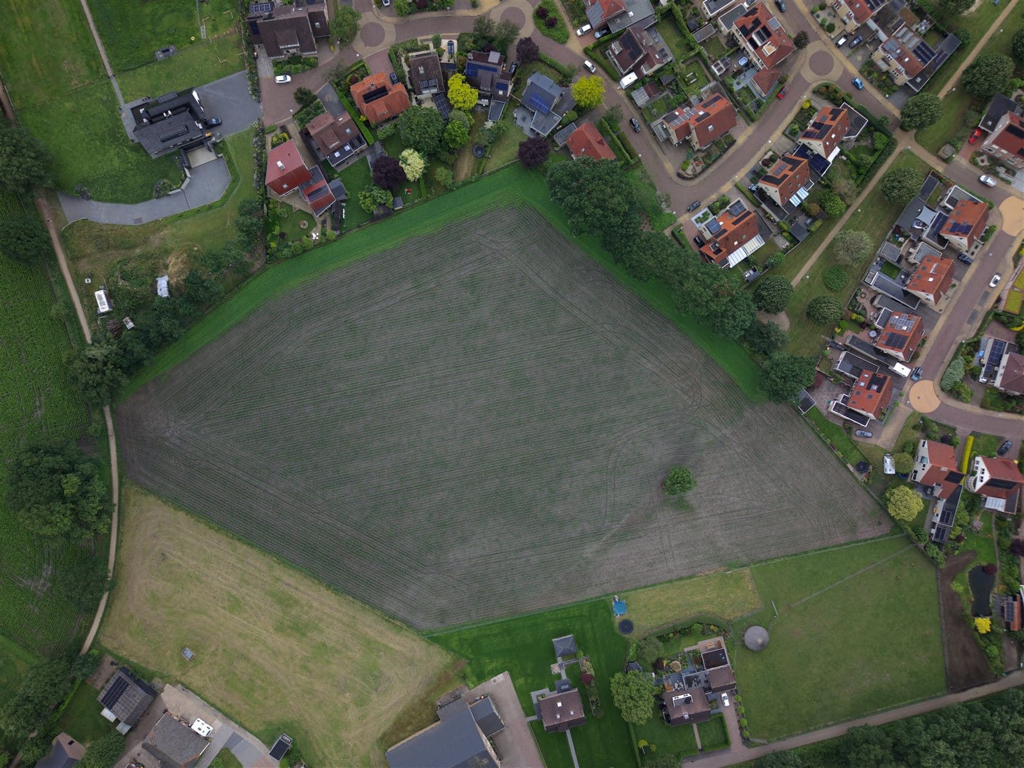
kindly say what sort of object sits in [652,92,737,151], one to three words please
house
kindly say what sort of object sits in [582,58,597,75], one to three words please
car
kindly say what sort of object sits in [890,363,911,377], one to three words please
camper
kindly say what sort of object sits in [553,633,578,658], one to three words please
building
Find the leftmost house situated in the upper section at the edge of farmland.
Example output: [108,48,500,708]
[132,86,217,169]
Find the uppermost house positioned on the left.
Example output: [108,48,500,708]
[246,0,331,61]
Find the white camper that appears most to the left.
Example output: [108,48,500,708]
[98,289,113,311]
